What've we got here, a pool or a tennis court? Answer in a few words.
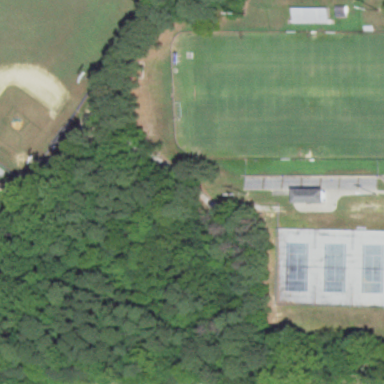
tennis court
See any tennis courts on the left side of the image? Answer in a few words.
No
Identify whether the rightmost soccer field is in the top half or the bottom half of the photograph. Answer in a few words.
top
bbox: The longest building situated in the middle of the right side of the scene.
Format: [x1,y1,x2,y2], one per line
[288,188,324,204]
